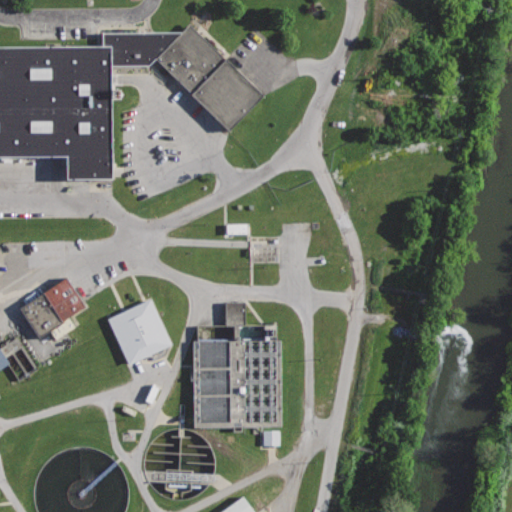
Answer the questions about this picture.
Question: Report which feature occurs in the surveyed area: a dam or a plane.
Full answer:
Looking from above, you can make out a dam.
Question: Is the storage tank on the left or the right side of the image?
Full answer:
The storage tank sits on the left side.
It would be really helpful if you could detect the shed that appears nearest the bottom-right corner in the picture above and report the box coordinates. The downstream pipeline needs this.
[263,430,282,448]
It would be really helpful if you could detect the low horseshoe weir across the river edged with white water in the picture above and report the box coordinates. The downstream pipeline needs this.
[424,322,475,446]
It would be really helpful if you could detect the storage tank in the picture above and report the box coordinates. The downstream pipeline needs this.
[34,447,130,512]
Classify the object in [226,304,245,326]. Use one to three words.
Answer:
building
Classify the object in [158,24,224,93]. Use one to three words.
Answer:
building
